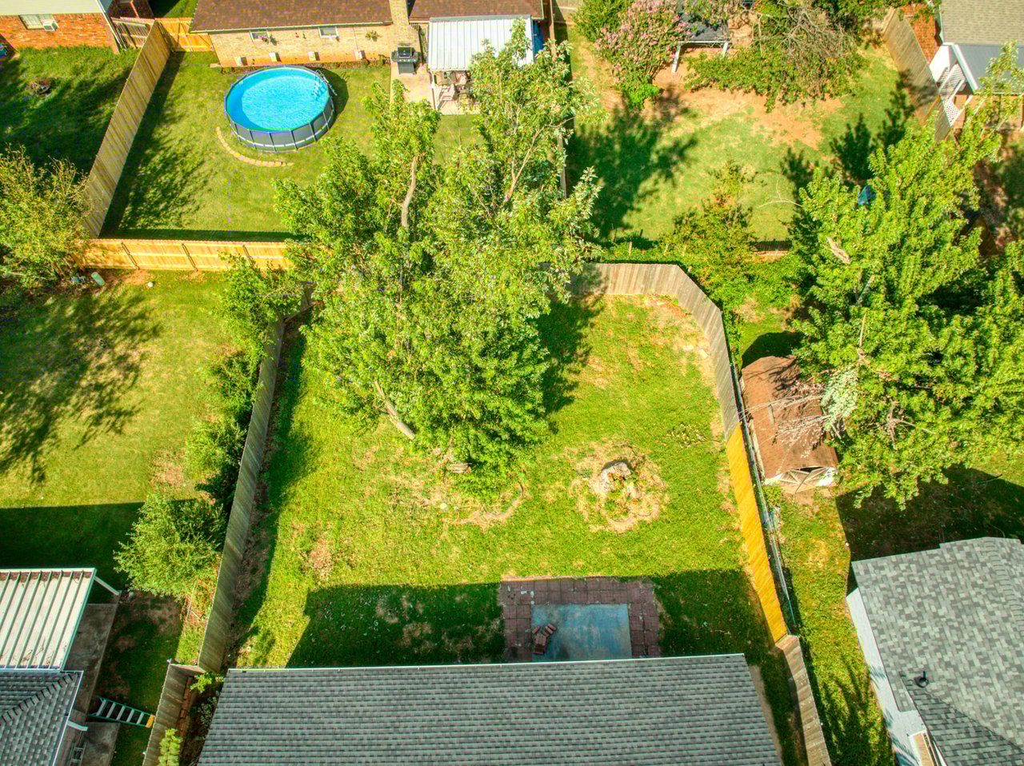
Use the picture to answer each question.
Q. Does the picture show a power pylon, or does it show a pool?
pool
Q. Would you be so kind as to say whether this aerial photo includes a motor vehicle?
No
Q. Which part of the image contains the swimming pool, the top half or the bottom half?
top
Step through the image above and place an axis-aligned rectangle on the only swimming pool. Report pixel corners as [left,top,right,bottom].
[225,68,339,155]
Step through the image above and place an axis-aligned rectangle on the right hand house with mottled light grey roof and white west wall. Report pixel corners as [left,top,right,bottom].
[849,532,1024,766]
